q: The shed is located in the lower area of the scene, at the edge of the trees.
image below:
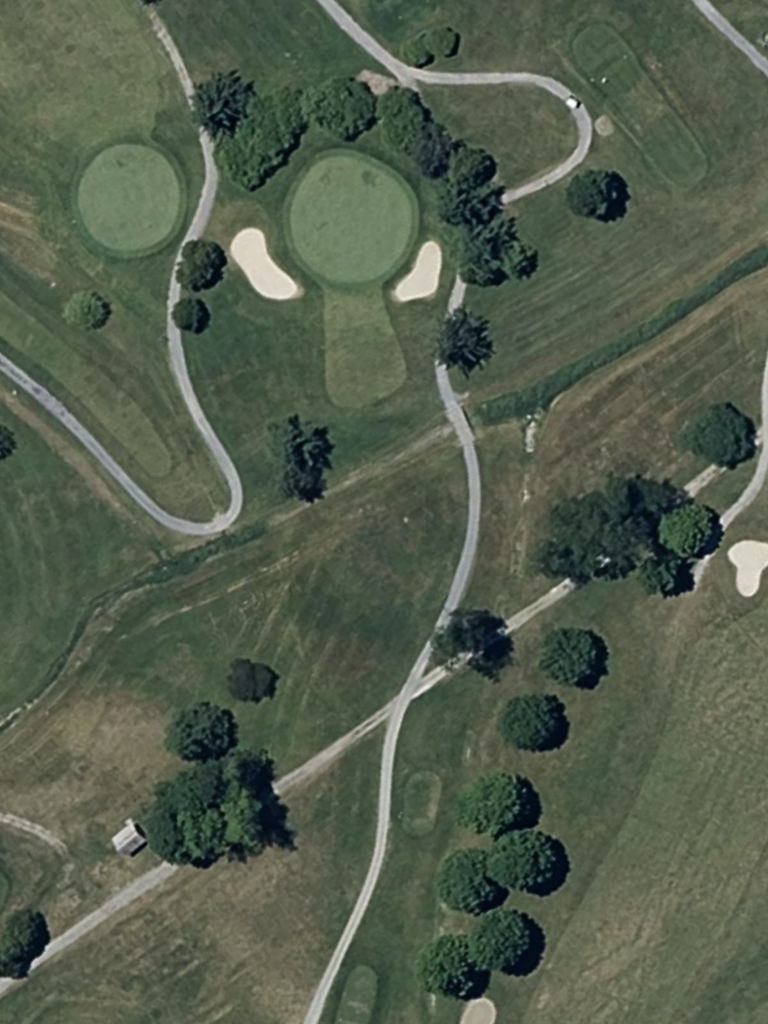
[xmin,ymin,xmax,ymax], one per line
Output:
[112,823,145,856]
